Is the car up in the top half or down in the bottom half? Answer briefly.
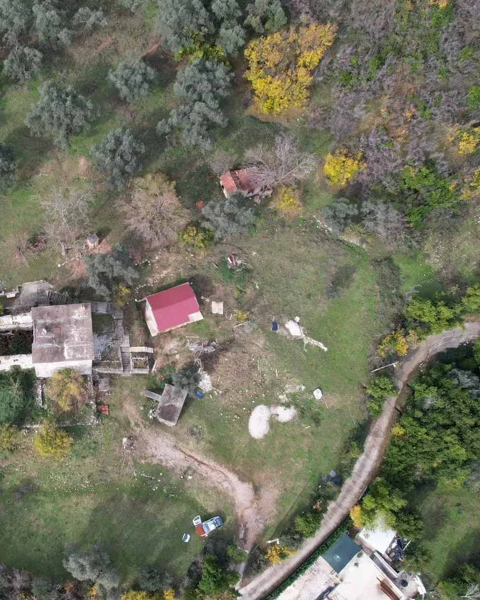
bottom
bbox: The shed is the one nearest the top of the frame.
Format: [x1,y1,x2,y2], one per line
[219,167,271,204]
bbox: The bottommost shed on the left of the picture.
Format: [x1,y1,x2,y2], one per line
[156,384,187,427]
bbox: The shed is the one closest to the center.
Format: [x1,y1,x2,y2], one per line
[137,283,204,339]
